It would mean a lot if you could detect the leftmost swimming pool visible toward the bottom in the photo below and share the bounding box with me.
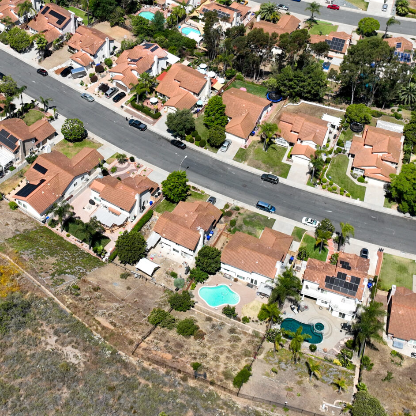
[200,282,241,308]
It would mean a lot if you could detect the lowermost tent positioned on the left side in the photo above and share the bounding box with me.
[135,256,160,284]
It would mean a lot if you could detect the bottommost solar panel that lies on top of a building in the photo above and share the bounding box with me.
[319,273,366,299]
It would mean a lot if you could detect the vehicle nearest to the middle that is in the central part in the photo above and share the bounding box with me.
[203,191,220,205]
